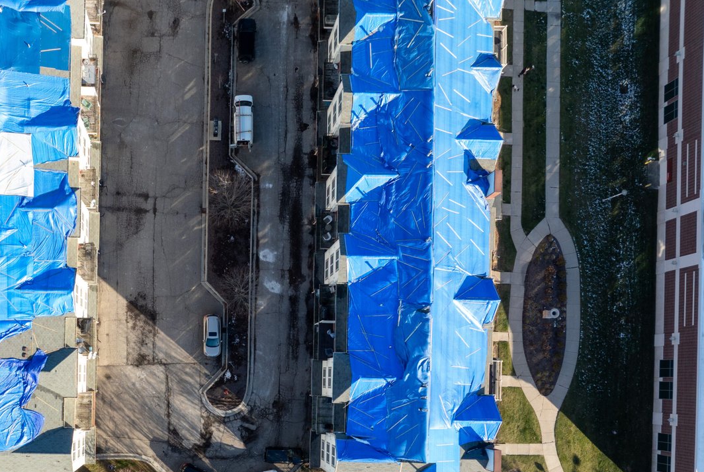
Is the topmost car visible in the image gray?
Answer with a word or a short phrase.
No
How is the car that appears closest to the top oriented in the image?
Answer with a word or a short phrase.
vertically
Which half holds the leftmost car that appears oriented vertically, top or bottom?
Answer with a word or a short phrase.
bottom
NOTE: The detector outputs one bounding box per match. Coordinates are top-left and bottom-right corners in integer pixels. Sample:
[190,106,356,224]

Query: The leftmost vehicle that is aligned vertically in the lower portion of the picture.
[202,313,223,356]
